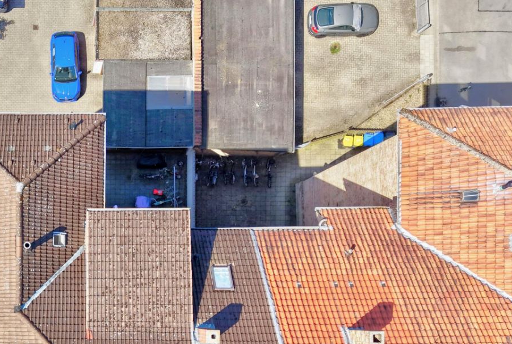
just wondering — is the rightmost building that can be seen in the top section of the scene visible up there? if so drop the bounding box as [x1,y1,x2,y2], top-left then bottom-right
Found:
[196,0,296,158]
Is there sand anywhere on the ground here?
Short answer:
No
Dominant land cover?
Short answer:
buildings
